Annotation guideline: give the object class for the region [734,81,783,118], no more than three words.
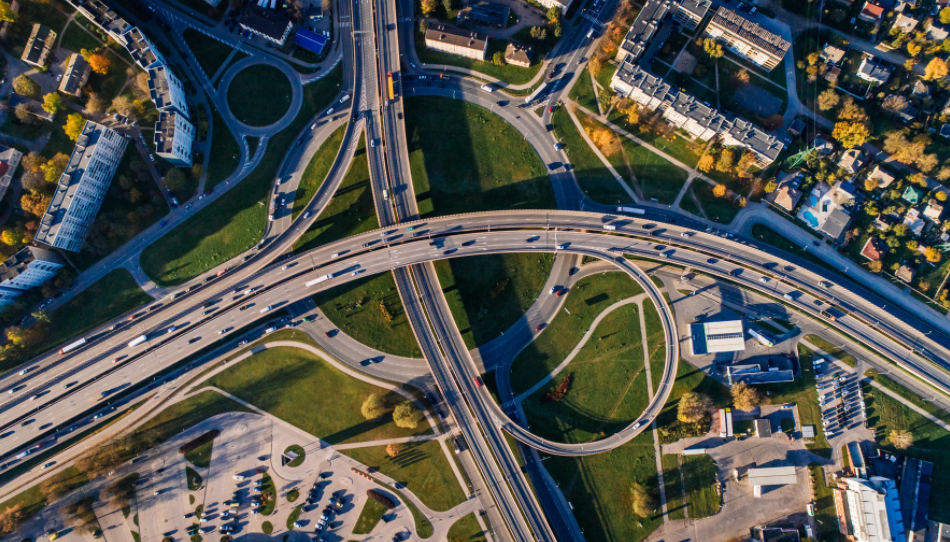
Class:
sports court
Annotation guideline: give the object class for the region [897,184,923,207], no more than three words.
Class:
house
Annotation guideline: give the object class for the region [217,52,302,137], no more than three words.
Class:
roundabout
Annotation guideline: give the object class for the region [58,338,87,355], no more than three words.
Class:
vehicle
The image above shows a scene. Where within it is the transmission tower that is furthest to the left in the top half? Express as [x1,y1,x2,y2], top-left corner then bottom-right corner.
[778,149,815,170]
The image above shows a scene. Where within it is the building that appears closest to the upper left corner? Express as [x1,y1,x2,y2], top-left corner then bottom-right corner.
[21,22,58,69]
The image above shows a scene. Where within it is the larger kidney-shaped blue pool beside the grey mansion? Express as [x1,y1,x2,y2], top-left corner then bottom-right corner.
[802,211,820,227]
